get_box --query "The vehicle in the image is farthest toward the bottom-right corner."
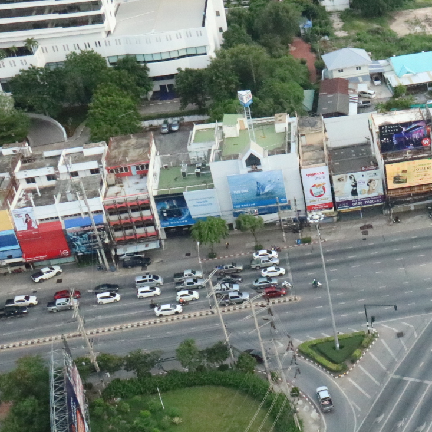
[316,387,334,415]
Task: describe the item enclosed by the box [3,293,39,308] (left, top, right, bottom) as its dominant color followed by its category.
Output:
white vehicle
